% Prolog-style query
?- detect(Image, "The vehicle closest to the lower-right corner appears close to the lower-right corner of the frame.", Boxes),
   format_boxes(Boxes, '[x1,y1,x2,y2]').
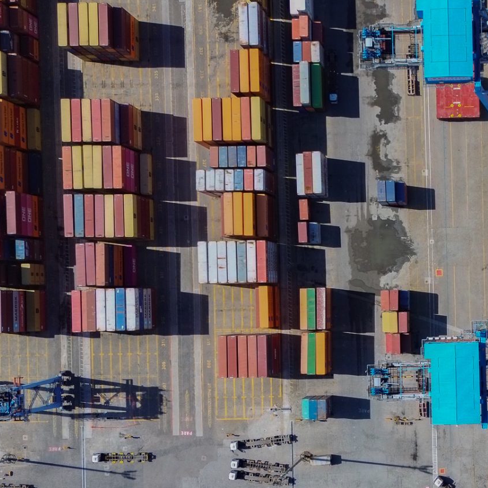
[434,475,453,488]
